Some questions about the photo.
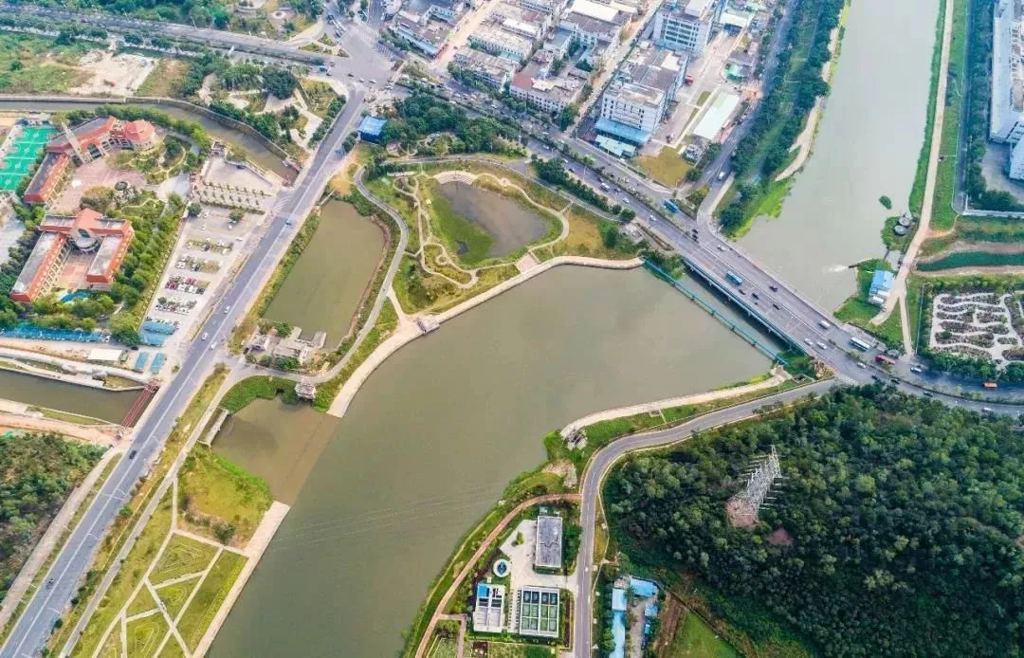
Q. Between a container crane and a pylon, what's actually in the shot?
pylon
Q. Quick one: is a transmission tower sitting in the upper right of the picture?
No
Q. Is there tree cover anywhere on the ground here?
Yes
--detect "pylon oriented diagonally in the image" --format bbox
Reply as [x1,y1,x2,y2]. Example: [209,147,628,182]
[724,455,792,529]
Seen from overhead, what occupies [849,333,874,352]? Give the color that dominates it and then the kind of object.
white vehicle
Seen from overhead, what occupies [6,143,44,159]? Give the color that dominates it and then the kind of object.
green basketball court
